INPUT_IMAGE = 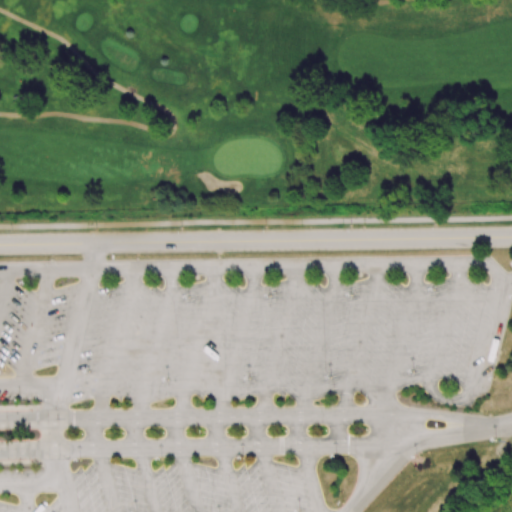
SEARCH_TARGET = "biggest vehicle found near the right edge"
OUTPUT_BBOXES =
[487,328,502,362]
